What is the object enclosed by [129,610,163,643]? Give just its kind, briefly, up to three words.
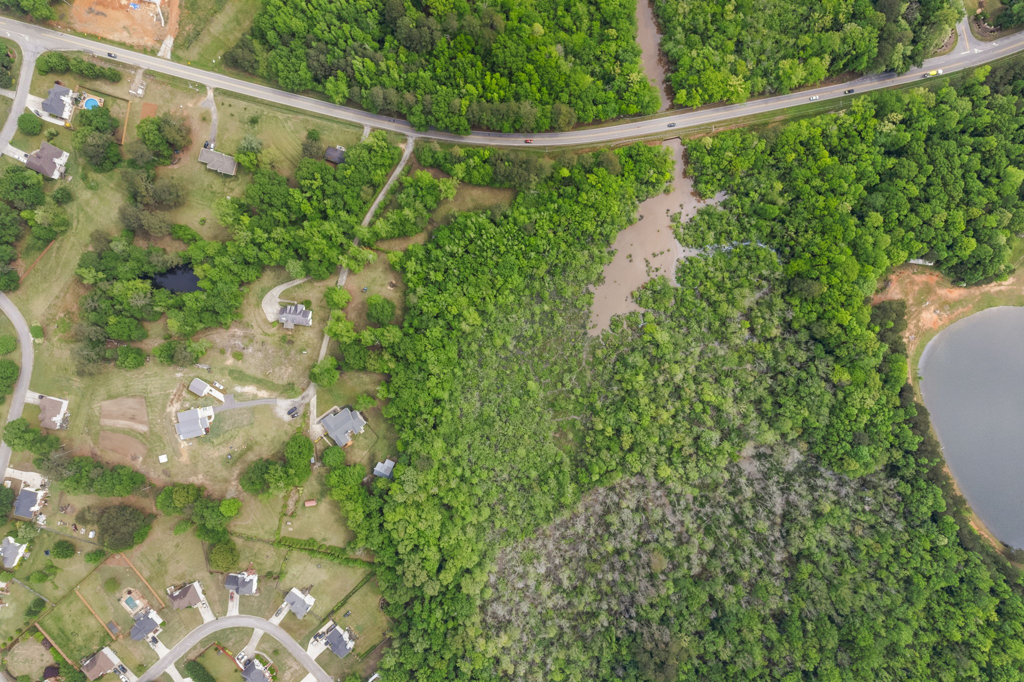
house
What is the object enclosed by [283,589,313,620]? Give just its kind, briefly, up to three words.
house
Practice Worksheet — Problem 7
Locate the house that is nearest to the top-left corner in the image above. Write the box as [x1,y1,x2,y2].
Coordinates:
[39,83,82,120]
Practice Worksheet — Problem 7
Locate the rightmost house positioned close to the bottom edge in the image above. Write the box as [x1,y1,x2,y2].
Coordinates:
[324,623,356,660]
